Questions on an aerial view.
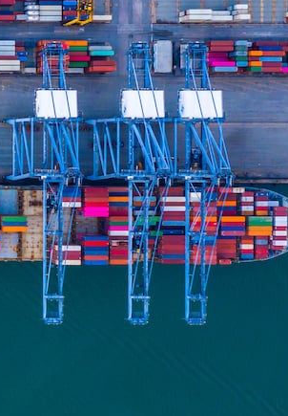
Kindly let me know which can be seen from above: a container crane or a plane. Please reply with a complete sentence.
It is a container crane that can be seen here.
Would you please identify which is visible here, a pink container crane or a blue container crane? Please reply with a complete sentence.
It is a blue container crane that can be seen here.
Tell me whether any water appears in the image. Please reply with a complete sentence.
Yes, there's water in this view.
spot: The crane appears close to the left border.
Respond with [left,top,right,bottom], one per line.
[5,39,84,324]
